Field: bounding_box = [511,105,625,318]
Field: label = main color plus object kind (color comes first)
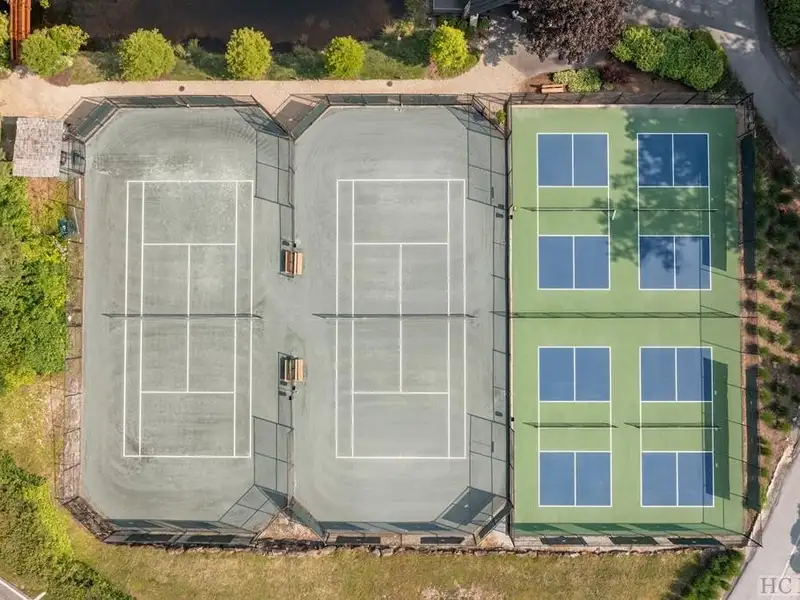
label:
green sports court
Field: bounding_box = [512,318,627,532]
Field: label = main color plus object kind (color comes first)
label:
green sports court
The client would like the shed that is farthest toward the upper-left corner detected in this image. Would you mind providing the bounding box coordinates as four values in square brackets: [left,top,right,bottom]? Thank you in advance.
[11,117,73,180]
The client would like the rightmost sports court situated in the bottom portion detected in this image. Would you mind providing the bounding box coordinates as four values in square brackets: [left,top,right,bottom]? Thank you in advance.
[625,318,745,532]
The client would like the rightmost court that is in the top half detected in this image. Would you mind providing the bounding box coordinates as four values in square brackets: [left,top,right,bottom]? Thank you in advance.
[623,105,741,318]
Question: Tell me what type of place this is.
sports ground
